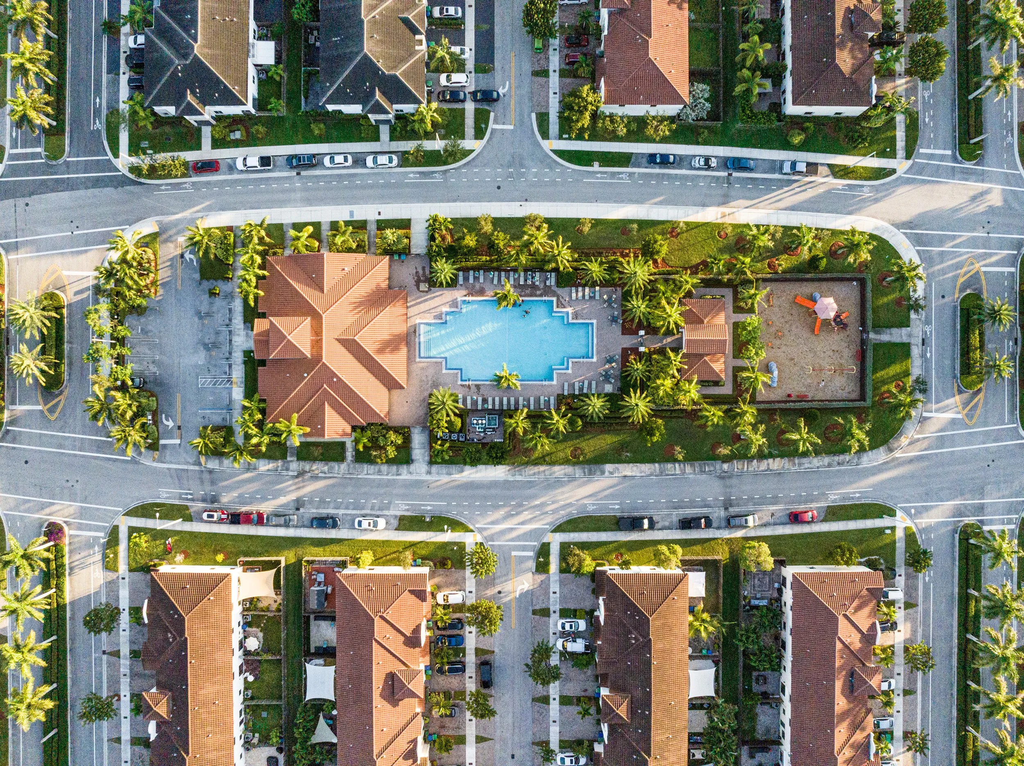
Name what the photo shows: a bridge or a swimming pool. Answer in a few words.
swimming pool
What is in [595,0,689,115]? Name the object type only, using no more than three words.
house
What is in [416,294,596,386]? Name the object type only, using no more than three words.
swimming pool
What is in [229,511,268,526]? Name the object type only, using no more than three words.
vehicle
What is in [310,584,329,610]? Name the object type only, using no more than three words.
gazebo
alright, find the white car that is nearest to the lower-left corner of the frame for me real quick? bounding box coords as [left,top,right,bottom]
[203,509,230,522]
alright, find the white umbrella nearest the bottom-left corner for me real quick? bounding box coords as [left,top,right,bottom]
[244,637,260,652]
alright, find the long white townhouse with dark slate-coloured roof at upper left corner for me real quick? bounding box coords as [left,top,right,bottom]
[144,0,260,125]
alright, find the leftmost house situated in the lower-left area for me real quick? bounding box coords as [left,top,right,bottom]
[141,565,244,766]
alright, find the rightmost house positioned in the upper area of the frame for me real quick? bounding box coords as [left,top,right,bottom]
[781,0,883,116]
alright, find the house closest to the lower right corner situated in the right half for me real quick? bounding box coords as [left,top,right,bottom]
[781,566,883,766]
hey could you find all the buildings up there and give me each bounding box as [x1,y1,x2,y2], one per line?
[680,298,731,381]
[595,0,689,115]
[251,249,408,438]
[335,567,431,766]
[141,565,244,766]
[781,566,883,766]
[318,0,426,123]
[144,0,260,125]
[593,567,689,766]
[781,0,883,116]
